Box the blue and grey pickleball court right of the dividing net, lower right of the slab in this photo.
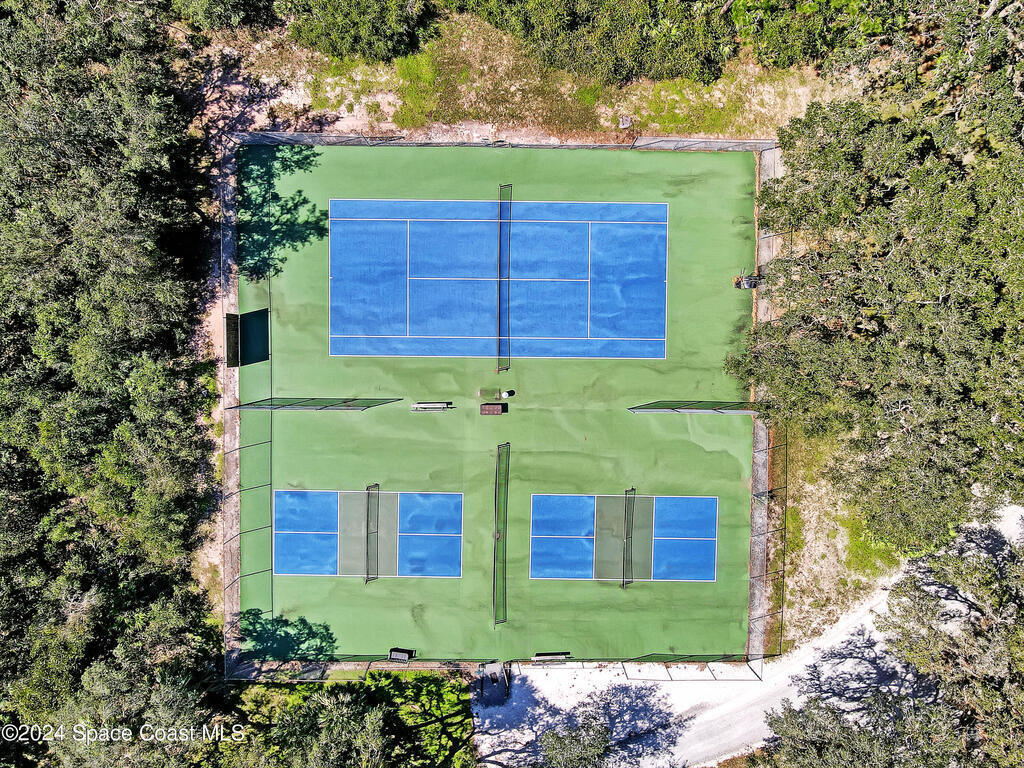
[530,494,718,581]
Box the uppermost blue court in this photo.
[329,199,668,359]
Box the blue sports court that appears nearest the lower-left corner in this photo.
[273,490,463,577]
